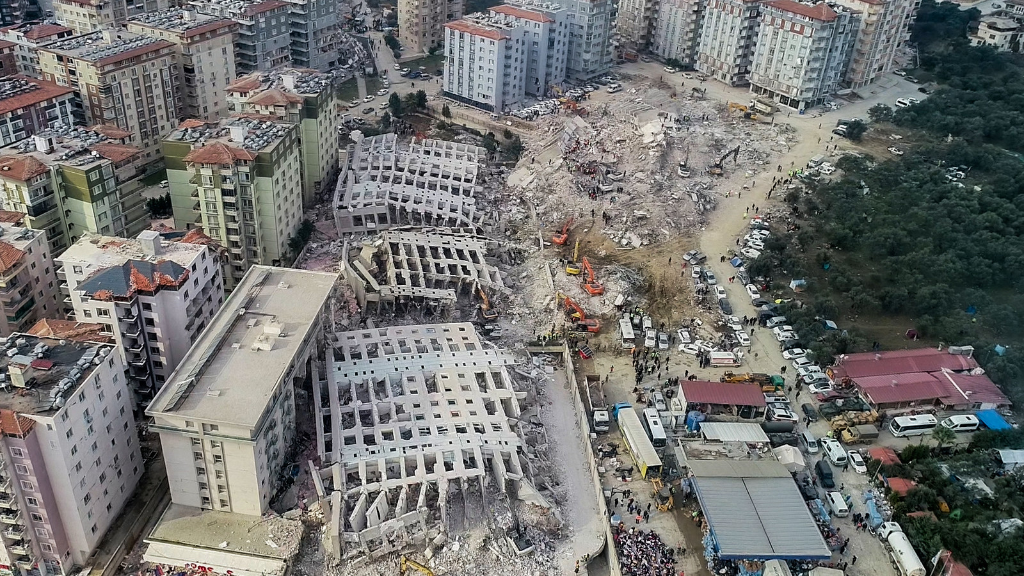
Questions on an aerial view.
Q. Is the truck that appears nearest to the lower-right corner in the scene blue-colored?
No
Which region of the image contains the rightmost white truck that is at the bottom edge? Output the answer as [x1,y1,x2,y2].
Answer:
[885,512,933,576]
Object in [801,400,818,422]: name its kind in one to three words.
vehicle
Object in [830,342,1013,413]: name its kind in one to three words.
building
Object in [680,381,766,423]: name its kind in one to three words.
shed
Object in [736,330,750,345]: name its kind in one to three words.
car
